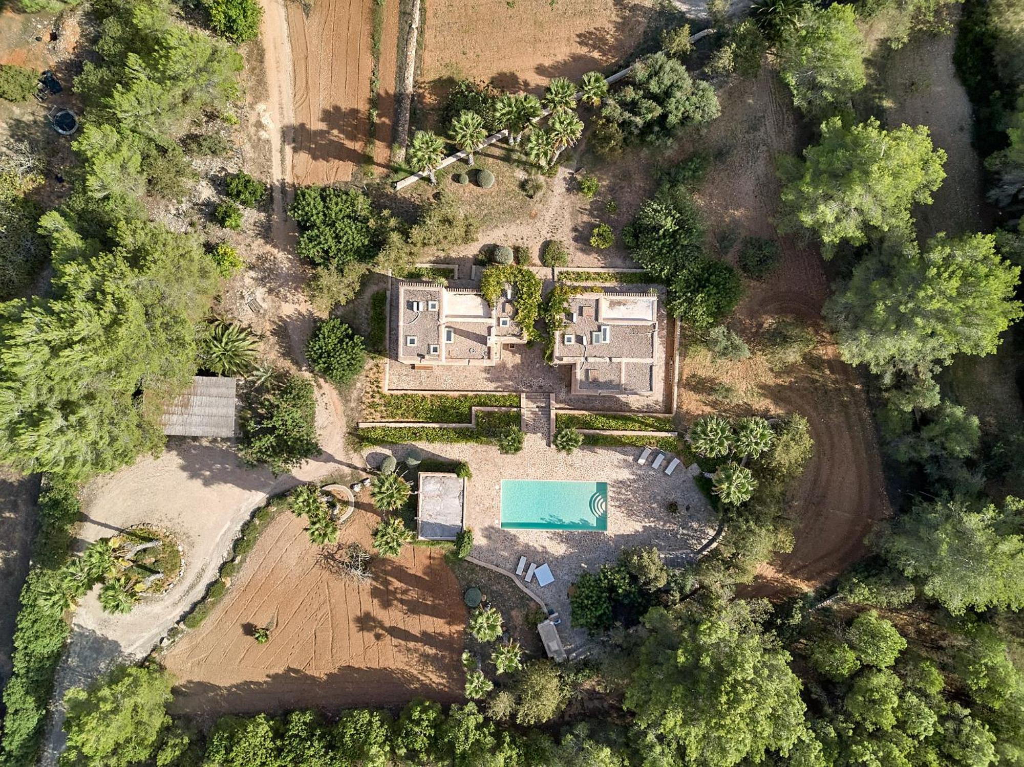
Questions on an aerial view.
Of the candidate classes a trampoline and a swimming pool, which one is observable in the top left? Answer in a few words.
trampoline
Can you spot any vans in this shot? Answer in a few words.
No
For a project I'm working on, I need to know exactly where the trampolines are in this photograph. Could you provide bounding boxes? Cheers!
[49,107,83,136]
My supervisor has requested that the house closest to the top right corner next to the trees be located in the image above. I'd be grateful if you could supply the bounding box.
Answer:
[552,291,661,398]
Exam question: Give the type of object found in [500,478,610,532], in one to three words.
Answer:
swimming pool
